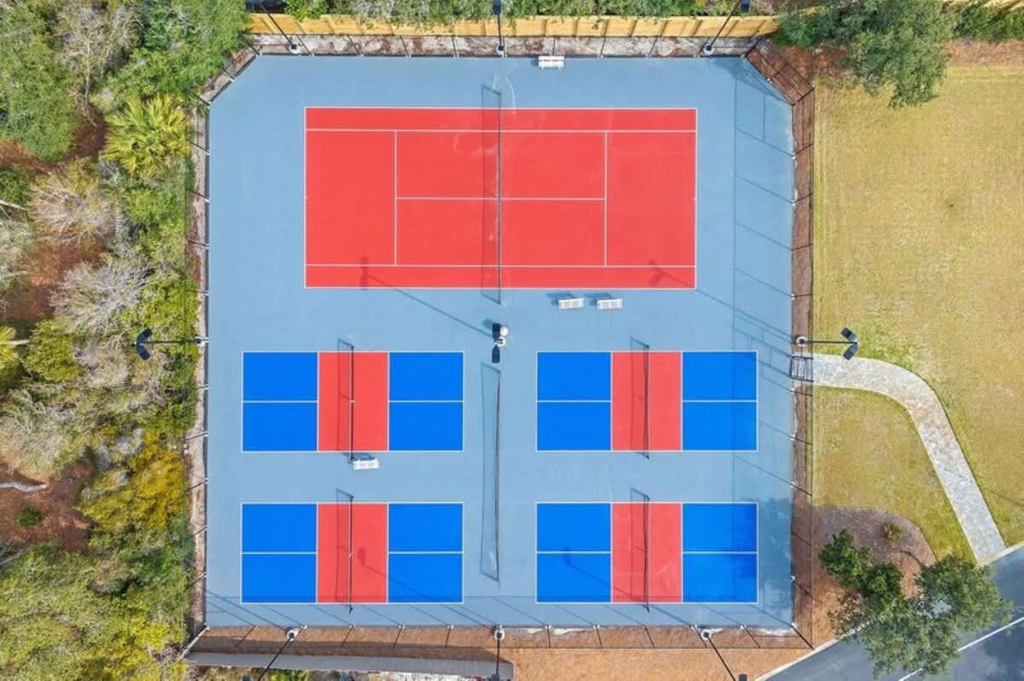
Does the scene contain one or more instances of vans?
No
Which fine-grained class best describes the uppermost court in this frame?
tennis court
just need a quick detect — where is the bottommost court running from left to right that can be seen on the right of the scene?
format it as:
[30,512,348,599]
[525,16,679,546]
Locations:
[536,502,759,604]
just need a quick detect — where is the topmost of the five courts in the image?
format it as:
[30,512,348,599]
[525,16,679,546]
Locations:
[305,106,697,289]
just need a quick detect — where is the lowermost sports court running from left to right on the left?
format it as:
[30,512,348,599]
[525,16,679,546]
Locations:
[241,502,464,604]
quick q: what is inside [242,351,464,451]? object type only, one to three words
sports court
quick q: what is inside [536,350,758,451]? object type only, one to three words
sports court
